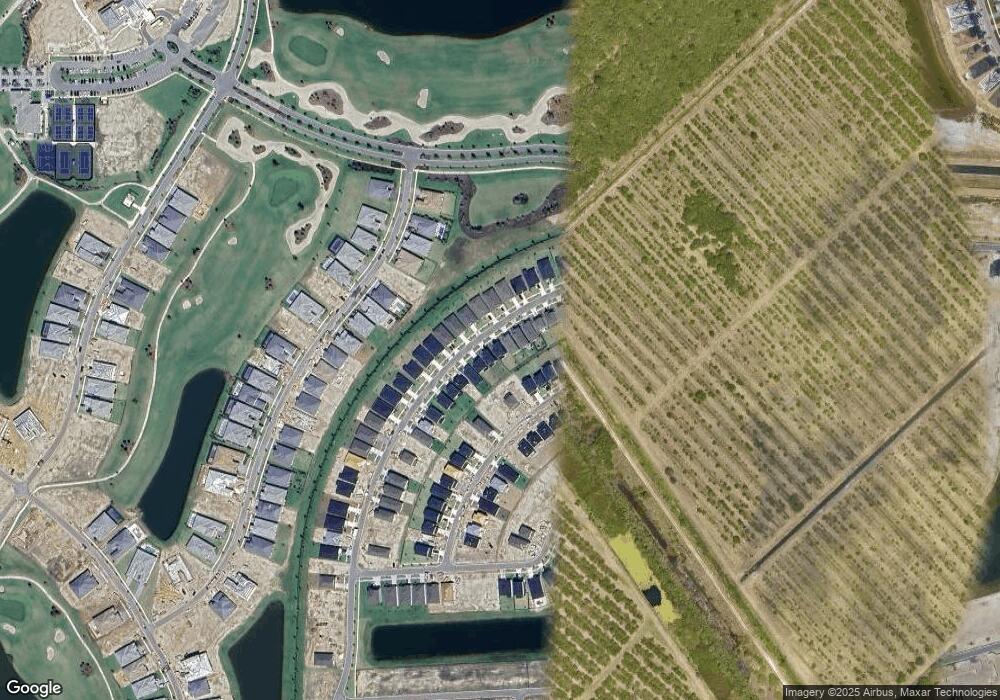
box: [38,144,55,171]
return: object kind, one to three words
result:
basketball court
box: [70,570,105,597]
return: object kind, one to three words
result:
house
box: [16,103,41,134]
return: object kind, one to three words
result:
building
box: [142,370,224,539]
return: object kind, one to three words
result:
pond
